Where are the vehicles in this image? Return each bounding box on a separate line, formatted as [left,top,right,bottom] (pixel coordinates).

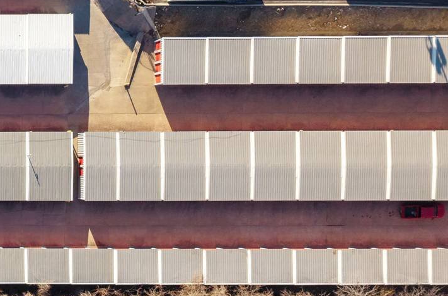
[398,202,446,219]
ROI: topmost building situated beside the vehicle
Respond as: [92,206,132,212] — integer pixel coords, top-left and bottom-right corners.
[77,130,448,201]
